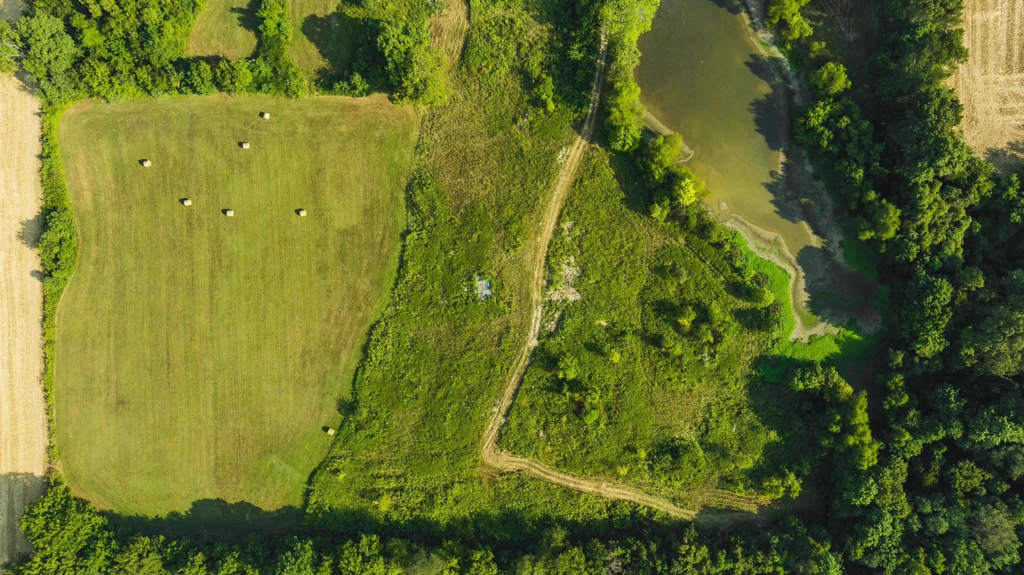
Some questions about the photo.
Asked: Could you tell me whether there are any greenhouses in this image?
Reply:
No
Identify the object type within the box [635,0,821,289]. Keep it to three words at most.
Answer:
pond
